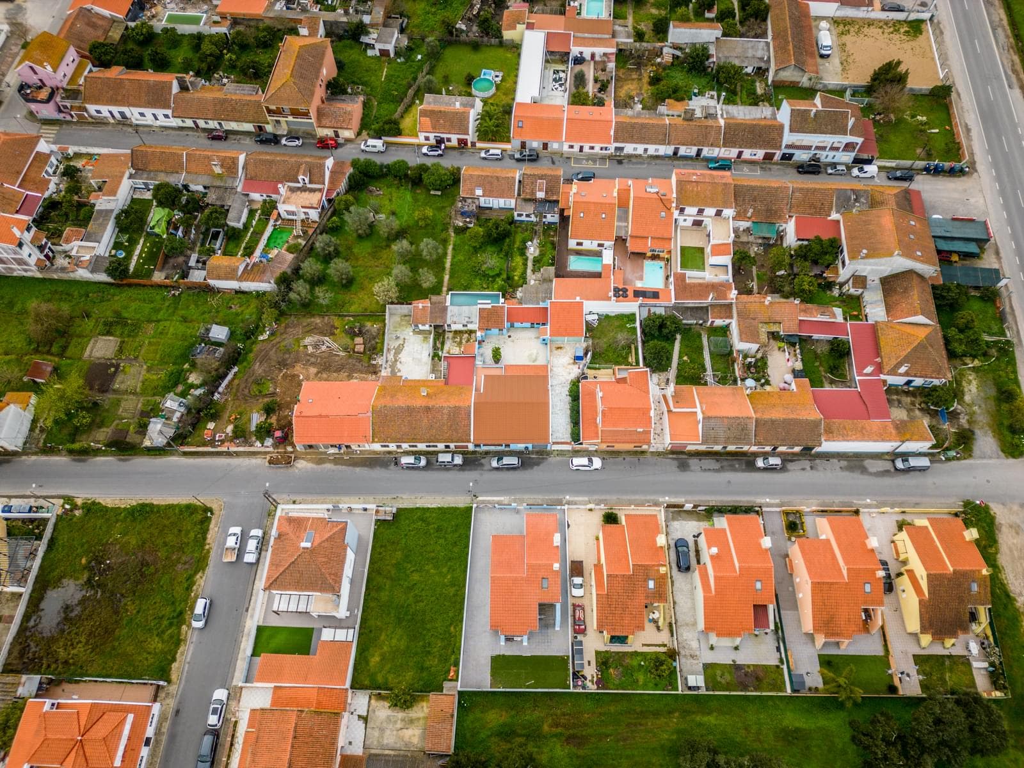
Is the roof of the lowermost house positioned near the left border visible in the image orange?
Yes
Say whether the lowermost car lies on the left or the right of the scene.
left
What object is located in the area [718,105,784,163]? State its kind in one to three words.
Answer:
house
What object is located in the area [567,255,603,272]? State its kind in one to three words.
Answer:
swimming pool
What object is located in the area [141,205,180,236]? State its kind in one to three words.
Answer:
gazebo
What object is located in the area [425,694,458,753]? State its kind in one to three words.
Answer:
shed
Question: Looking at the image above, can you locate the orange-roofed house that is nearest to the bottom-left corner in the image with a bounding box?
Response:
[5,699,162,768]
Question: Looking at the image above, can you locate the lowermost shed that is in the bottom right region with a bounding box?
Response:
[790,671,814,693]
